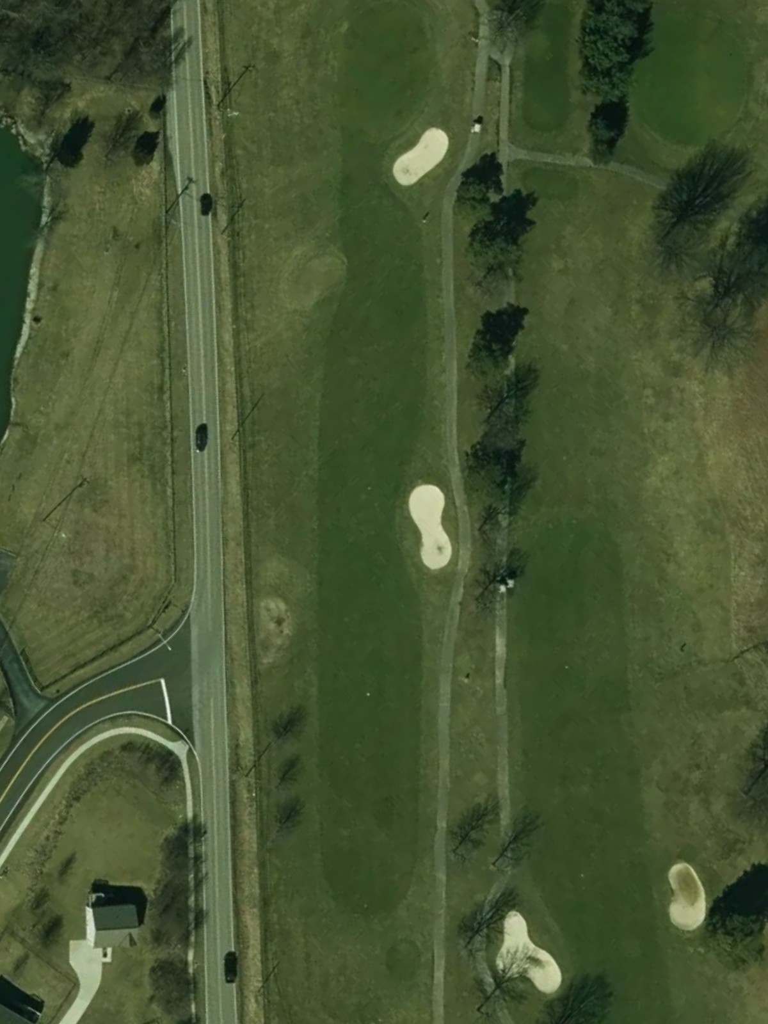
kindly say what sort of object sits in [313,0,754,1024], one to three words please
golf course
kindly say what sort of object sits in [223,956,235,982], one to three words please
vehicle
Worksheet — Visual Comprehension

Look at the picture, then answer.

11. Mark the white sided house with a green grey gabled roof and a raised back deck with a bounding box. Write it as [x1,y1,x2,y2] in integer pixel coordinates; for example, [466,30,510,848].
[86,893,139,951]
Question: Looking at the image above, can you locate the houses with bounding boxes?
[0,1001,37,1024]
[86,893,139,951]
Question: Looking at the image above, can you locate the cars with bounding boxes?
[194,427,206,451]
[223,956,235,982]
[199,196,210,218]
